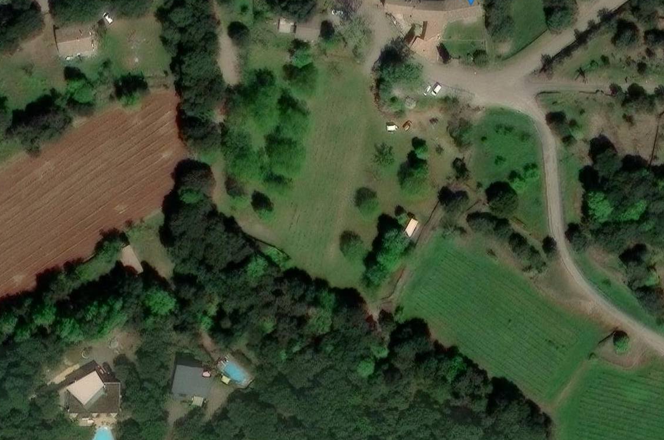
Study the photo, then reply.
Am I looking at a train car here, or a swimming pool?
swimming pool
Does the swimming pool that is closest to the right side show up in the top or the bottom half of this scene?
bottom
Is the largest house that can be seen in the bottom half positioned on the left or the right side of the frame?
left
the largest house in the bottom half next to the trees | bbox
[64,371,120,419]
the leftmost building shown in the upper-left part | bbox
[54,21,96,52]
